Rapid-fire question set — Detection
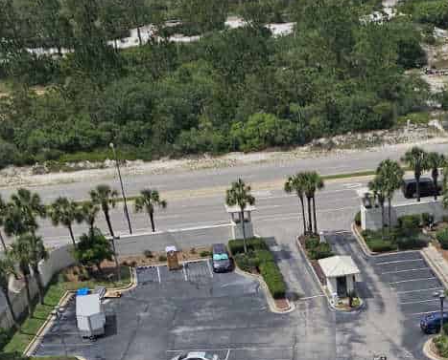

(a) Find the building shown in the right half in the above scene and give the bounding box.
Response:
[317,256,362,301]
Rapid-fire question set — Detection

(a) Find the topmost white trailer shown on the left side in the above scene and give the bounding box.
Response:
[77,293,110,341]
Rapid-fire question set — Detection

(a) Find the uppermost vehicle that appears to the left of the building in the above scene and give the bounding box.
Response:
[210,247,232,270]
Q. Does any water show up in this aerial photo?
No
